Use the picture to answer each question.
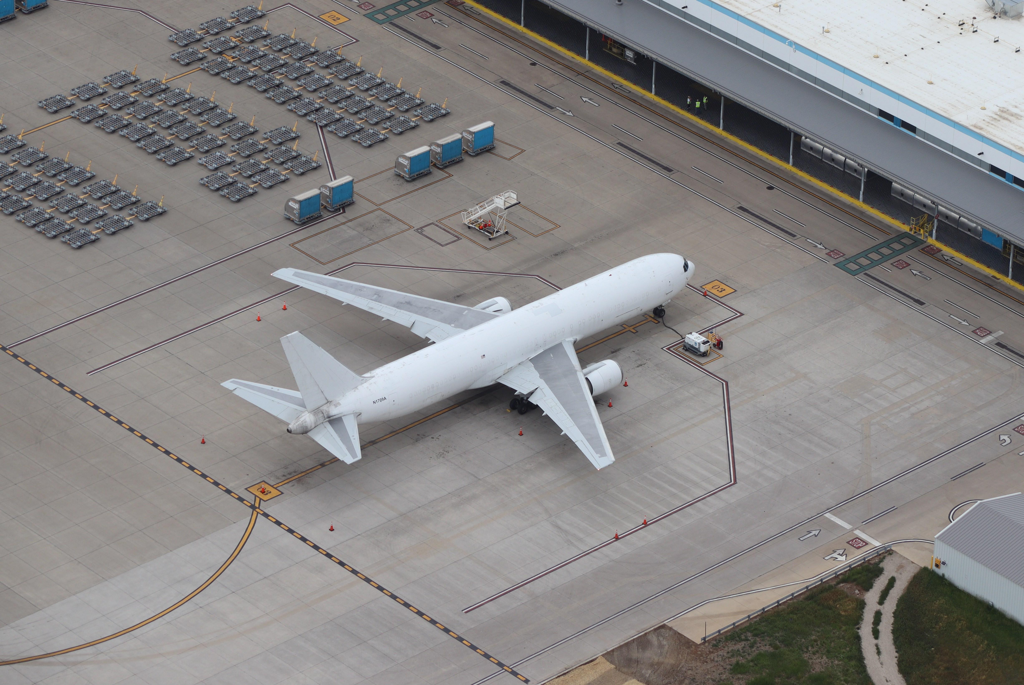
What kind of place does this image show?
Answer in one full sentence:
The picture captures an airport.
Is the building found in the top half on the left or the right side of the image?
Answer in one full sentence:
The building found in the top half appears in the right half of the scene.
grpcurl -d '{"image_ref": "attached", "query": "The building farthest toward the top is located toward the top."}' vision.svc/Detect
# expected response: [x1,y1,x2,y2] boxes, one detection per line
[463,0,1024,292]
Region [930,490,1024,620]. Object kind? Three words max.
shed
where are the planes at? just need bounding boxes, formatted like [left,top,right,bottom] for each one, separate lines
[220,252,696,471]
